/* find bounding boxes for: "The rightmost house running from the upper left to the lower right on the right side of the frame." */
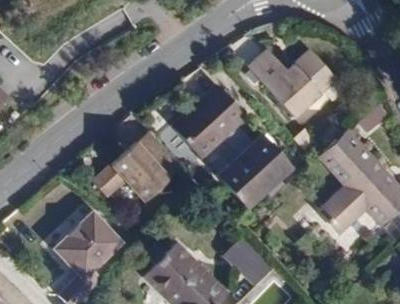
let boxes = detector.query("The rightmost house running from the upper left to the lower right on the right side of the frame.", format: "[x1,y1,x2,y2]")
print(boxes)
[320,130,400,226]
